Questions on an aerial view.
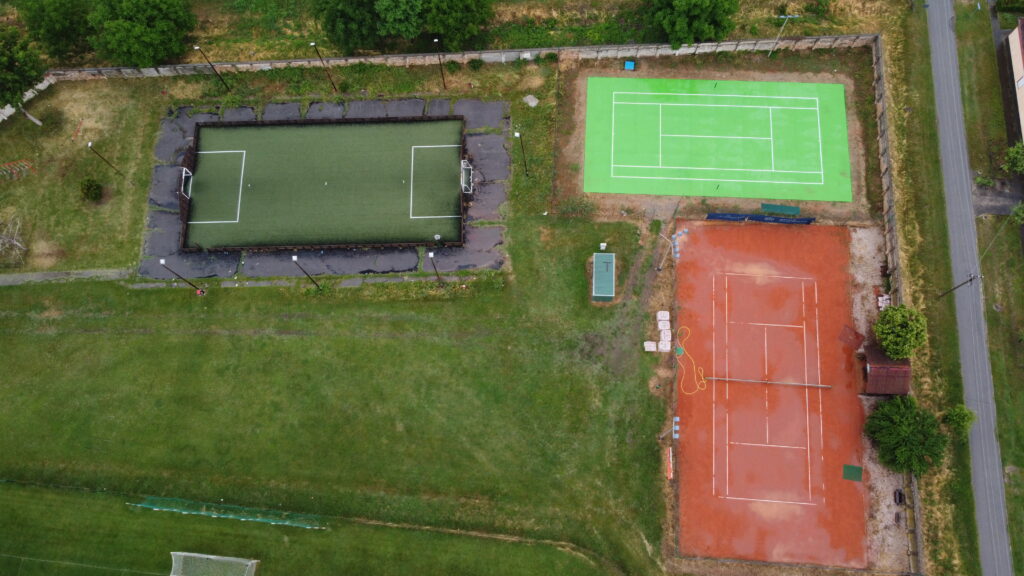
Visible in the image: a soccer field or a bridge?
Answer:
soccer field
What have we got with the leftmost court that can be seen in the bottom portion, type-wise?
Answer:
tennis court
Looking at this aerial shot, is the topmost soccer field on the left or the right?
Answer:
left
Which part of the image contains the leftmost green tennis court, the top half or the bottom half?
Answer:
top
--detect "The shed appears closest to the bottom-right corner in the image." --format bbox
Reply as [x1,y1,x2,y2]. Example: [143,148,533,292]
[863,346,912,394]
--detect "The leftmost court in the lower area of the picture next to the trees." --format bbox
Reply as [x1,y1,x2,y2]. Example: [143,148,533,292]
[676,222,867,568]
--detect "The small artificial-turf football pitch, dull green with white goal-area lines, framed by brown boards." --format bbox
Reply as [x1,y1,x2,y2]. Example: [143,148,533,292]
[183,121,464,249]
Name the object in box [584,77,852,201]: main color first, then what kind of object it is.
green tennis court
